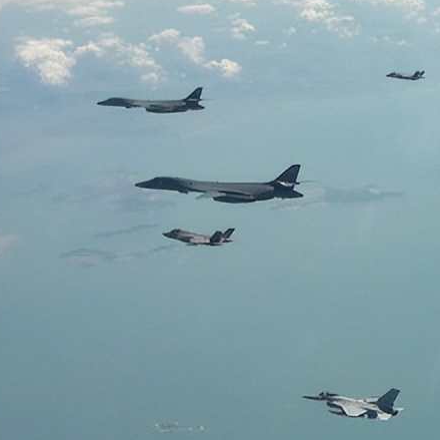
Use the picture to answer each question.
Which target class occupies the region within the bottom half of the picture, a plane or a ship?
plane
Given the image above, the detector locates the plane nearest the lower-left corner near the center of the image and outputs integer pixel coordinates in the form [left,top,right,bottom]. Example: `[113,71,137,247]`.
[164,227,235,246]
